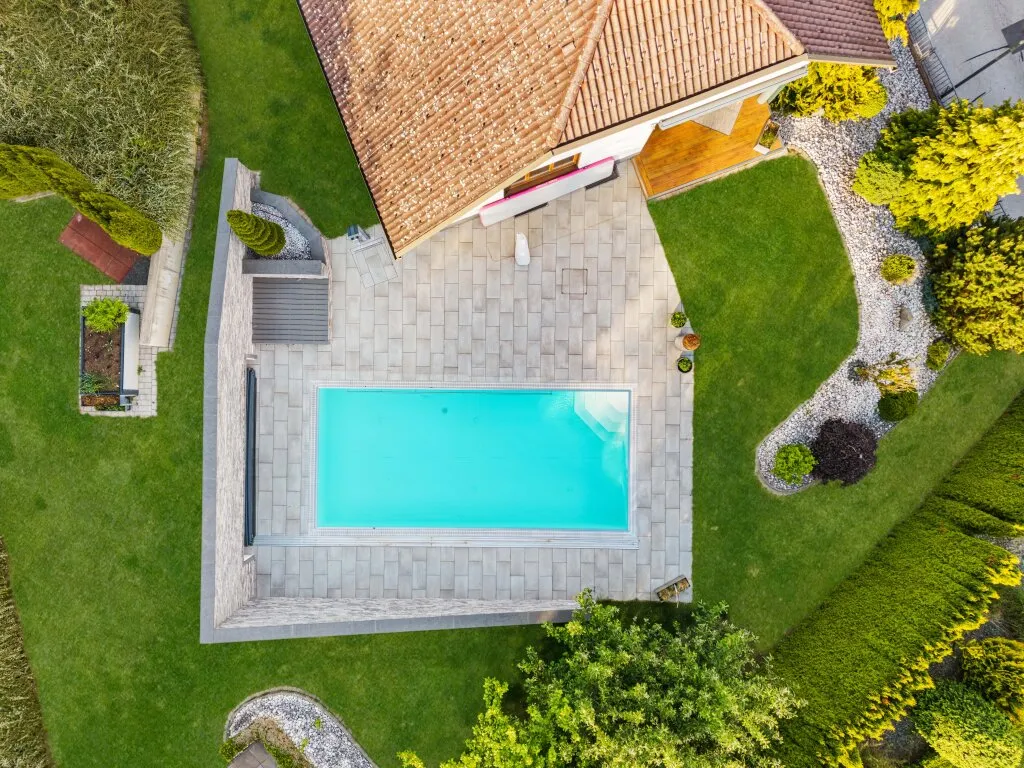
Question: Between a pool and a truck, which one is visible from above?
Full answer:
Looking from above, you can make out a pool.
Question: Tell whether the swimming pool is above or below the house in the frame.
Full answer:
The swimming pool is located below the house in this view.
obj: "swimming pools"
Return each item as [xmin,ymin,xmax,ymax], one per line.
[307,380,638,536]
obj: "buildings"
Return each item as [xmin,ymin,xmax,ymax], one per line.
[296,0,897,260]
